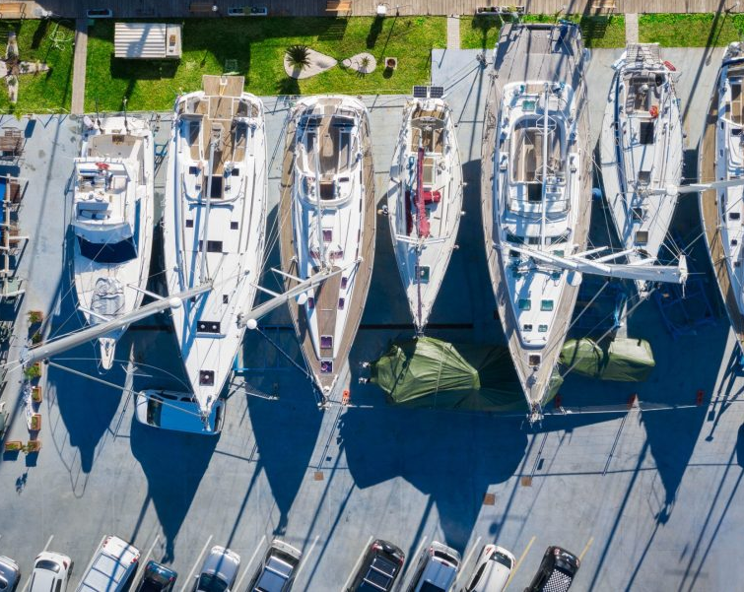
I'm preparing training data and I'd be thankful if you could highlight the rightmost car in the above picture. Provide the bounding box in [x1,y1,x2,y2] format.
[519,544,581,592]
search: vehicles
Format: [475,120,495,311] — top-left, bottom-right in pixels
[342,536,408,592]
[17,547,76,592]
[398,536,464,592]
[76,534,146,592]
[185,543,245,592]
[0,553,28,592]
[519,544,581,592]
[132,557,182,592]
[241,537,305,592]
[455,541,517,592]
